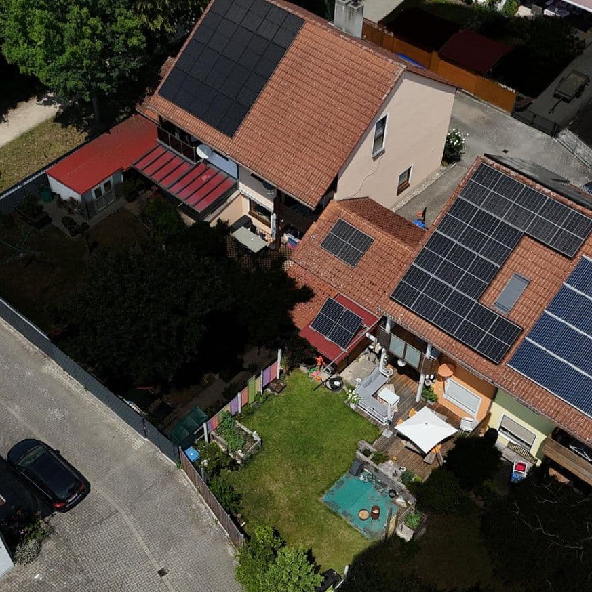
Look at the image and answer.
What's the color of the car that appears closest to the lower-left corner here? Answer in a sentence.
The car that appears closest to the lower-left corner looks black in the image.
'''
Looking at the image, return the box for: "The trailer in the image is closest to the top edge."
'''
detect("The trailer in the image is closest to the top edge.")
[549,68,591,112]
